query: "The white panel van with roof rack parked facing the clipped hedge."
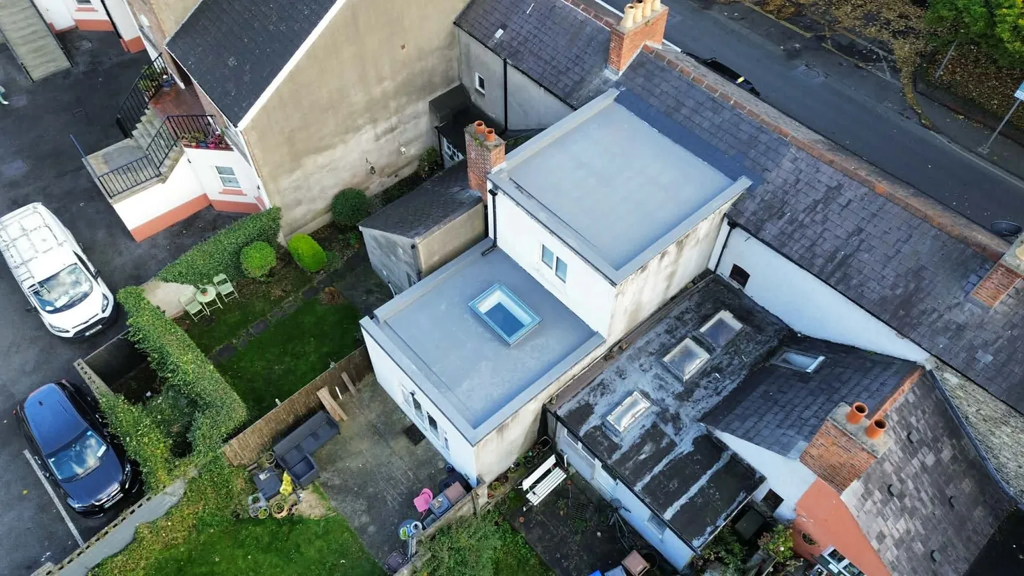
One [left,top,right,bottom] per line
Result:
[0,201,113,336]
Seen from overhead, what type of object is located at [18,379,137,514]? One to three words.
car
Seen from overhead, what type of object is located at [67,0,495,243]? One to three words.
house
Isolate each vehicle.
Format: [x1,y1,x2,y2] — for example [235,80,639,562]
[18,379,137,514]
[685,53,761,97]
[0,201,113,336]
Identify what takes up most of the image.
buildings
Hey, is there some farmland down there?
No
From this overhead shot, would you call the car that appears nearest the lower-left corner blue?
Yes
